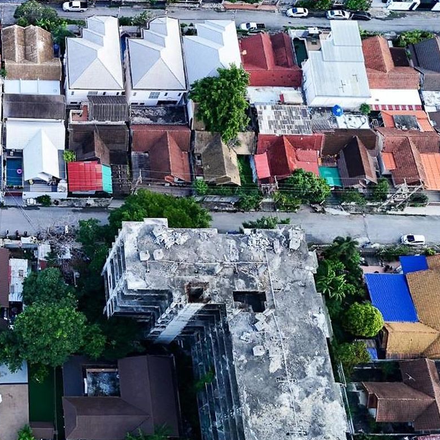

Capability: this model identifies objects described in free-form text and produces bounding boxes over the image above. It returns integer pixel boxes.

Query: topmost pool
[294,36,308,65]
